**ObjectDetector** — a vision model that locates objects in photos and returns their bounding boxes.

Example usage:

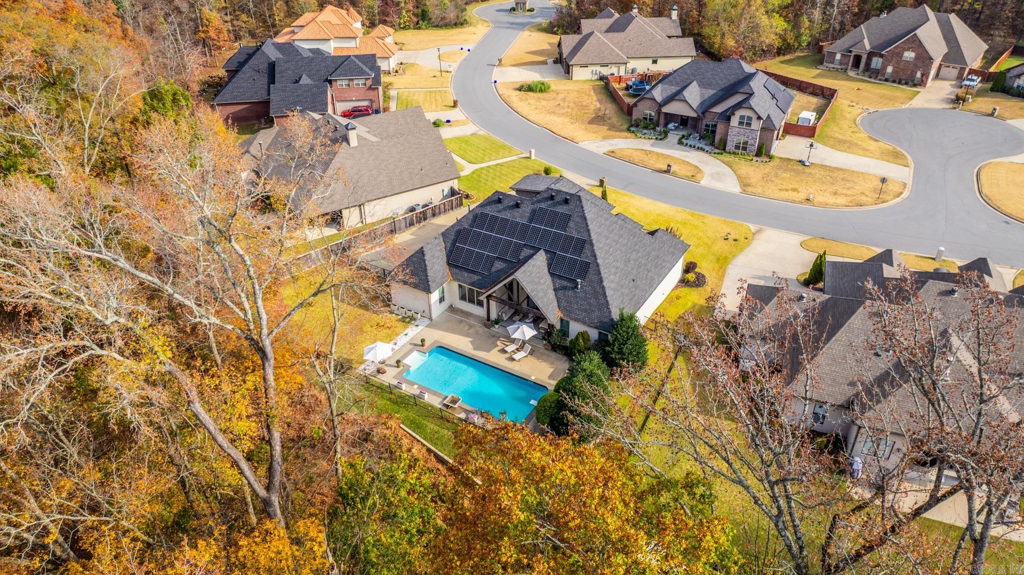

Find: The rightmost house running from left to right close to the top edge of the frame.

[824,4,991,87]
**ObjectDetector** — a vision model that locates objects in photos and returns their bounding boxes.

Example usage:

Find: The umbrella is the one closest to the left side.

[353,329,392,364]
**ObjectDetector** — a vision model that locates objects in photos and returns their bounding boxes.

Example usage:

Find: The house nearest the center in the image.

[389,159,689,357]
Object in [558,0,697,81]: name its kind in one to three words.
house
